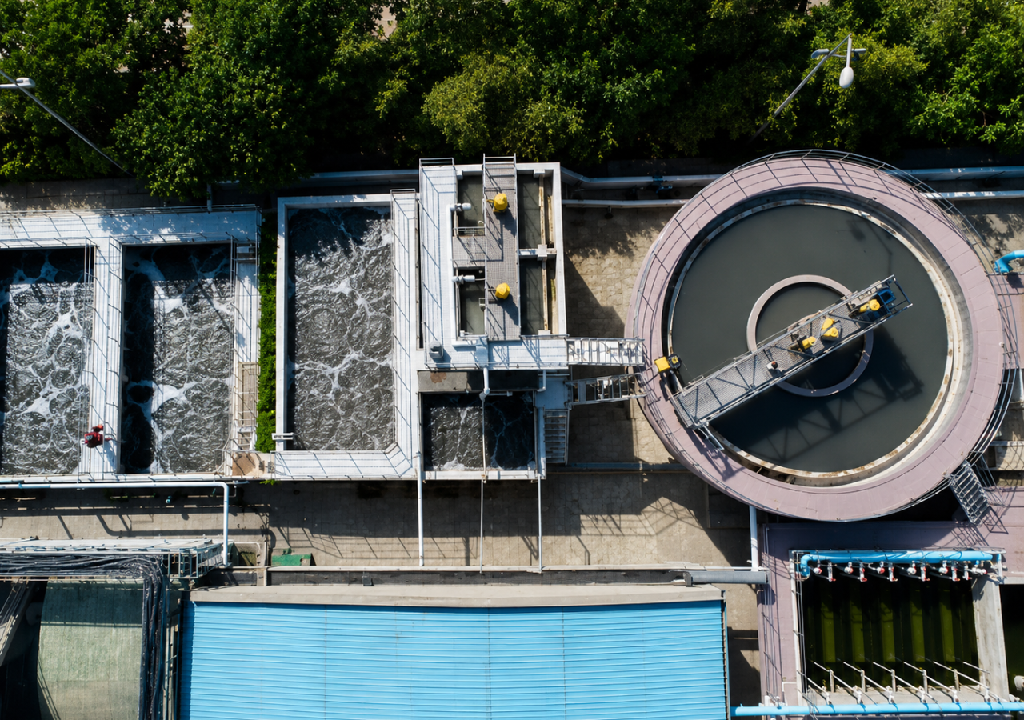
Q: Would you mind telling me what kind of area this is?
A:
industrial area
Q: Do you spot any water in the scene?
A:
Yes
